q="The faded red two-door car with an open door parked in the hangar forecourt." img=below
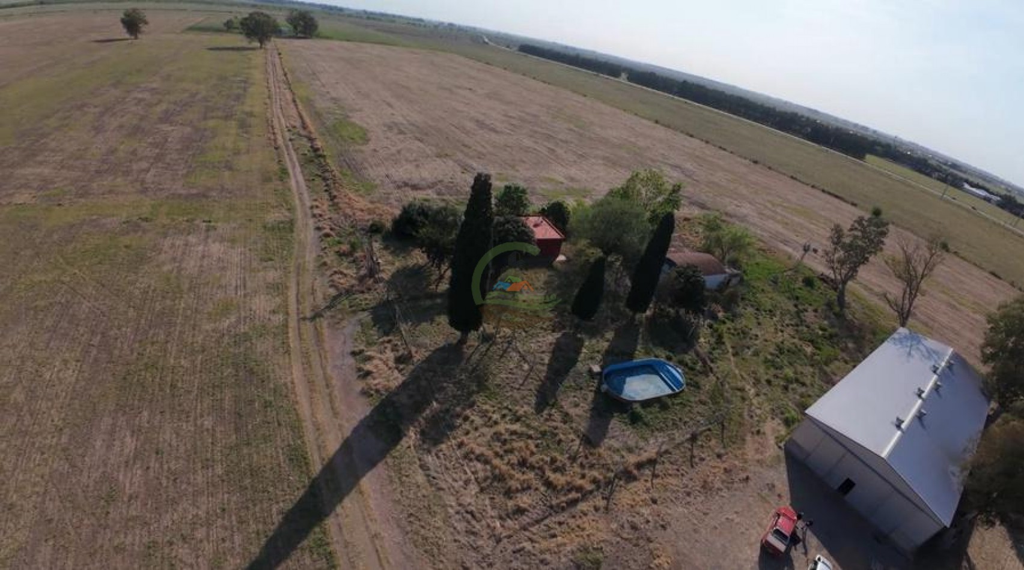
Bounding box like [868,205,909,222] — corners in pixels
[760,506,808,555]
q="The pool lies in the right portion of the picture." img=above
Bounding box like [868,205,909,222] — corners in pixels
[601,358,686,406]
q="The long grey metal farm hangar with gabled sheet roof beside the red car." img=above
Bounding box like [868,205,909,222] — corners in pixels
[783,329,1000,556]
